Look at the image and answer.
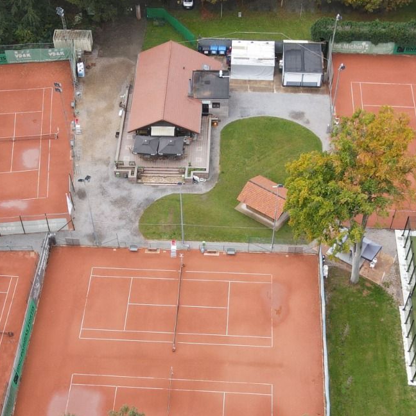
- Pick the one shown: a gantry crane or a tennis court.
tennis court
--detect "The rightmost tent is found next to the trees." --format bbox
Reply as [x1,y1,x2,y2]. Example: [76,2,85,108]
[361,238,390,274]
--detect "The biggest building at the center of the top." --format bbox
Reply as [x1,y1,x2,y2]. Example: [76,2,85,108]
[127,39,234,137]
